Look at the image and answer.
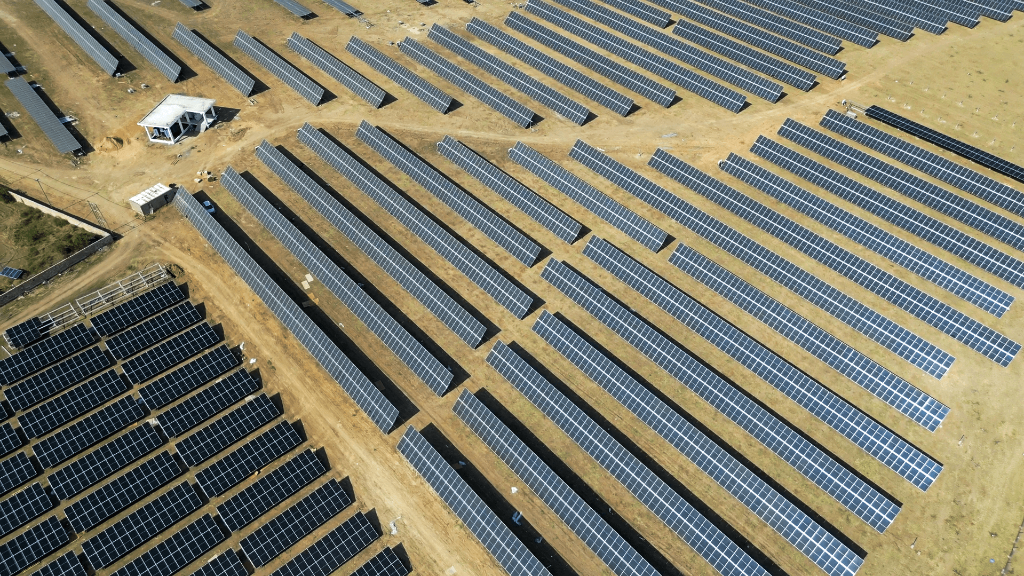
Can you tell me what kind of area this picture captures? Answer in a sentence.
The area seen from above is a solar farm.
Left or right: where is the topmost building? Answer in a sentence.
The topmost building is on the left side of the image.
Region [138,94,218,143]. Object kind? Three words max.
building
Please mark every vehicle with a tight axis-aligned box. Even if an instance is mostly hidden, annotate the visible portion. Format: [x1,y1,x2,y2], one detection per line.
[202,201,216,214]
